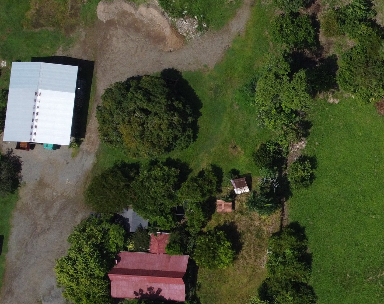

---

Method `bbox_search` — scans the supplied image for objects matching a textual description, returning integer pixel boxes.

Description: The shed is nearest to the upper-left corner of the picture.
[3,62,89,145]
